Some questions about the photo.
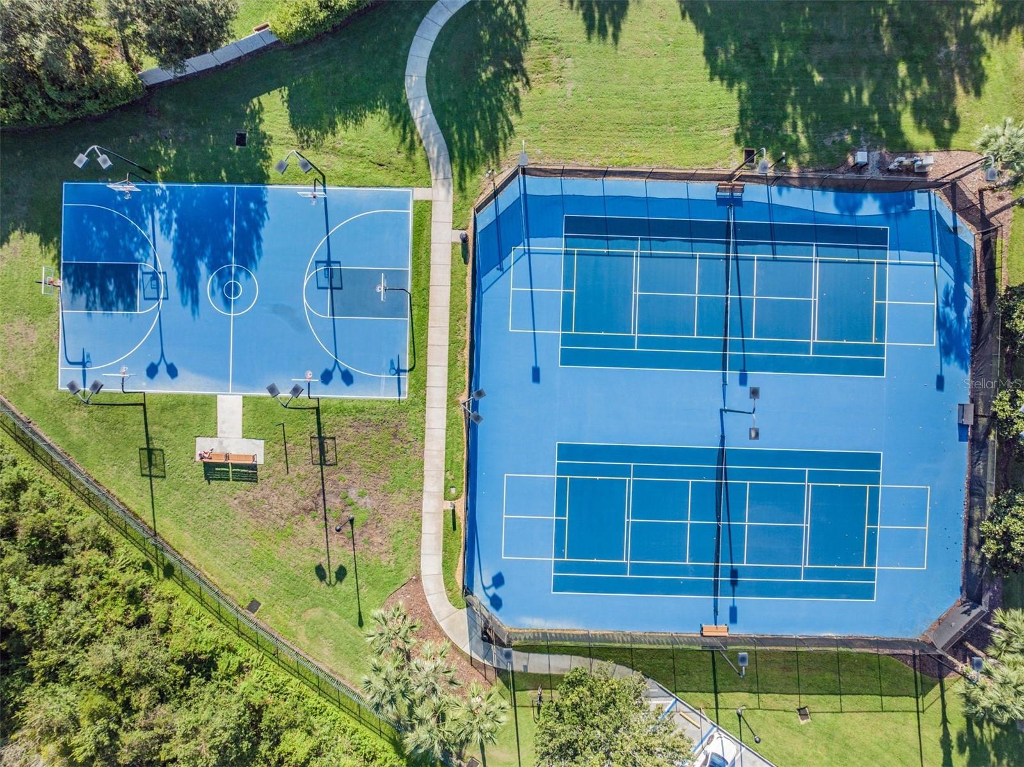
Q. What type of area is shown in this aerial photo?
sports ground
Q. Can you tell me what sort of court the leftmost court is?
basketball court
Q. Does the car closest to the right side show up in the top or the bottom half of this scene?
bottom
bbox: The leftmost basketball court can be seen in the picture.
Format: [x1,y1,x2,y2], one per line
[57,181,413,400]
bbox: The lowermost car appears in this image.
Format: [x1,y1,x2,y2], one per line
[682,731,733,767]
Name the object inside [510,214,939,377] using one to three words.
tennis court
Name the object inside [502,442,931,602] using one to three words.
tennis court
